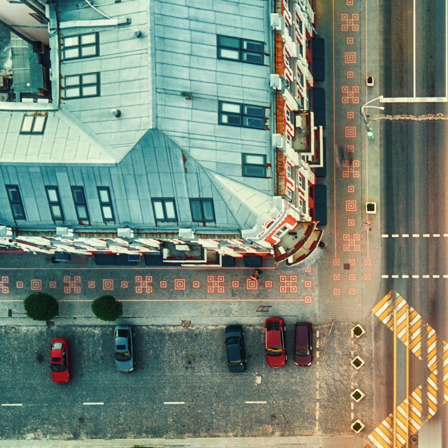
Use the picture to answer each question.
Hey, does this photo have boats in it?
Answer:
No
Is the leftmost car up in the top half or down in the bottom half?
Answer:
bottom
